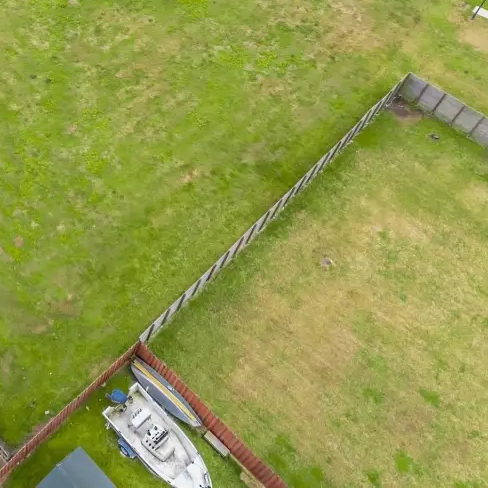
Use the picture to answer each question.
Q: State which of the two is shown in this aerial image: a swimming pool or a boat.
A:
boat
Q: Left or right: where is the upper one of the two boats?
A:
left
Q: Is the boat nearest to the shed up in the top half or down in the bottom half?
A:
bottom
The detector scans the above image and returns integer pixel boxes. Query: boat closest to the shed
[101,380,215,488]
